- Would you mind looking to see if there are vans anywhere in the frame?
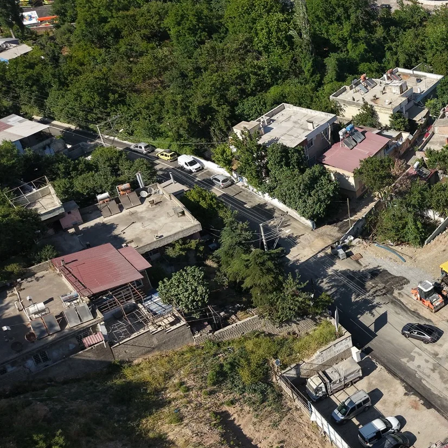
Yes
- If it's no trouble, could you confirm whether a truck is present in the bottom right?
Yes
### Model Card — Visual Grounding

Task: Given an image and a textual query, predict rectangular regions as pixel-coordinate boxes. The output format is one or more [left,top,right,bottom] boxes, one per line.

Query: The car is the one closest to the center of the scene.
[205,171,234,187]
